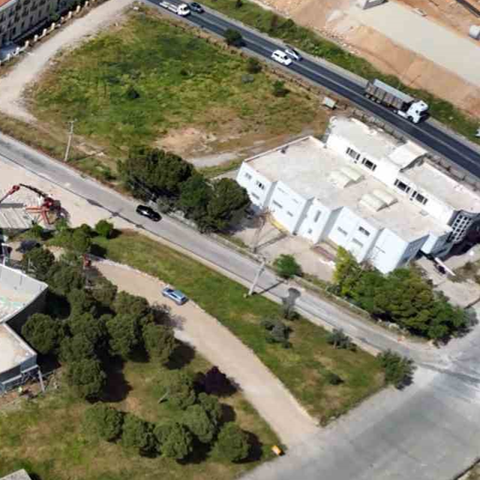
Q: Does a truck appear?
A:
Yes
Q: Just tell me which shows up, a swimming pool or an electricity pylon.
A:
electricity pylon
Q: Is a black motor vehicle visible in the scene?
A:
Yes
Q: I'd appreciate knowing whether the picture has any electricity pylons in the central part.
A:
Yes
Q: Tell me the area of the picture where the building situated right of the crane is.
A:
right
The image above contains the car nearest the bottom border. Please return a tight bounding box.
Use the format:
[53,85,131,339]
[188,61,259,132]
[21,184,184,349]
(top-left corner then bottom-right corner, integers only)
[162,284,190,303]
